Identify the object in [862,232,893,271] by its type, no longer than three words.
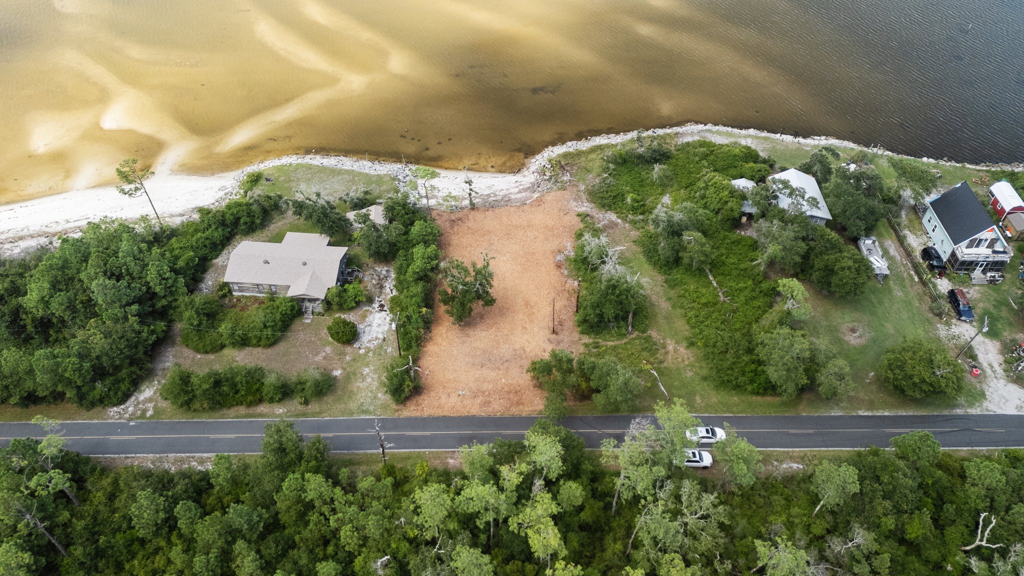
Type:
boat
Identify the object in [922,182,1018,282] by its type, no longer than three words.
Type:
house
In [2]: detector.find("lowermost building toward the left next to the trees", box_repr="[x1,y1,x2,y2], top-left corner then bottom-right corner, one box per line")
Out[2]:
[223,233,373,326]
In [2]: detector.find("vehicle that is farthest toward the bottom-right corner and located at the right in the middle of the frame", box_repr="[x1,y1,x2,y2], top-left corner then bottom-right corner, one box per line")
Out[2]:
[945,289,973,322]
